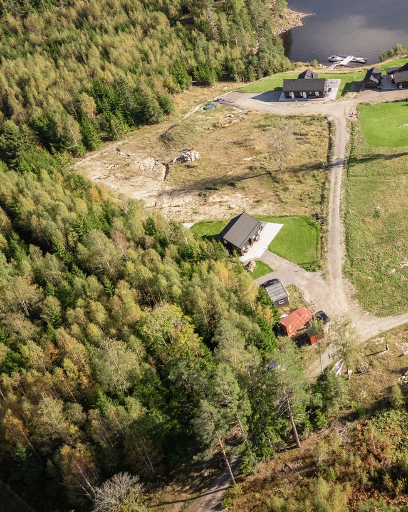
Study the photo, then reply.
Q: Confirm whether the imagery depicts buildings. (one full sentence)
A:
Yes, a building can be made out from above.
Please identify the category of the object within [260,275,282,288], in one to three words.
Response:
vehicle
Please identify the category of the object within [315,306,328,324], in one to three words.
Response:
vehicle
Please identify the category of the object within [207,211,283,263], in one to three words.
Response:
house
